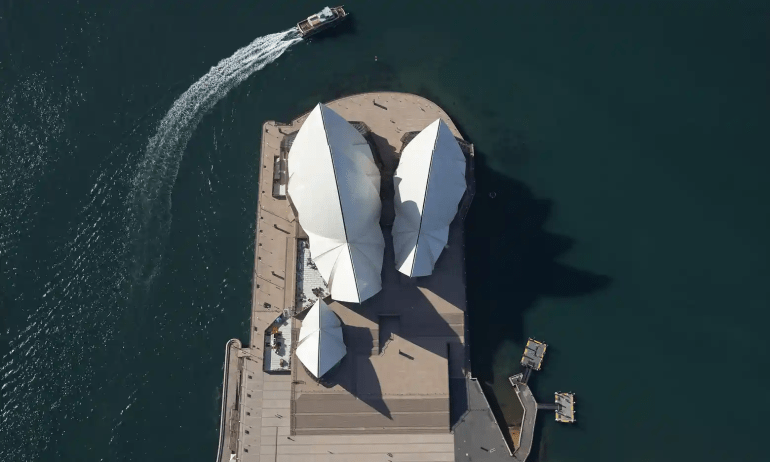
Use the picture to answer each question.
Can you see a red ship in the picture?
No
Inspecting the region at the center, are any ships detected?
No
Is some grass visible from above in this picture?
No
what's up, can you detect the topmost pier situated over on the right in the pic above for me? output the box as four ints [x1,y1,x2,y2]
[521,339,547,368]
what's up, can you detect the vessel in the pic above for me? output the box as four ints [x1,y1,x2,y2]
[295,2,350,38]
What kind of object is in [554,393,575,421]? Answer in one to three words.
pier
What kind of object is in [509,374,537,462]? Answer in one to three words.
pier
